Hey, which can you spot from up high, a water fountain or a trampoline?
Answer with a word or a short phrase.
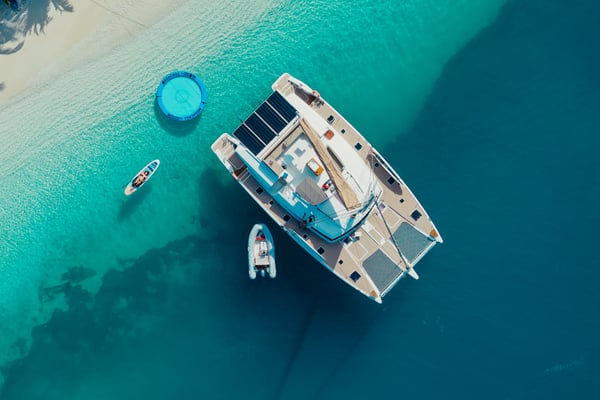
trampoline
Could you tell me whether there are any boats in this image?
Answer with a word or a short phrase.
Yes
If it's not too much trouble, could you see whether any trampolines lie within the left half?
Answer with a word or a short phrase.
Yes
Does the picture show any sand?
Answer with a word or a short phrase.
Yes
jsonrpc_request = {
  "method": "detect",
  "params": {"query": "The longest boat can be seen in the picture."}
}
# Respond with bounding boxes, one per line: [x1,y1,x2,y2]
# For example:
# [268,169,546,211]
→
[213,75,441,303]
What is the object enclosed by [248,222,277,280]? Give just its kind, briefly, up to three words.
boat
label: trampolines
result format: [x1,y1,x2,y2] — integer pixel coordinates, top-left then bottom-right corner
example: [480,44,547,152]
[154,71,208,124]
